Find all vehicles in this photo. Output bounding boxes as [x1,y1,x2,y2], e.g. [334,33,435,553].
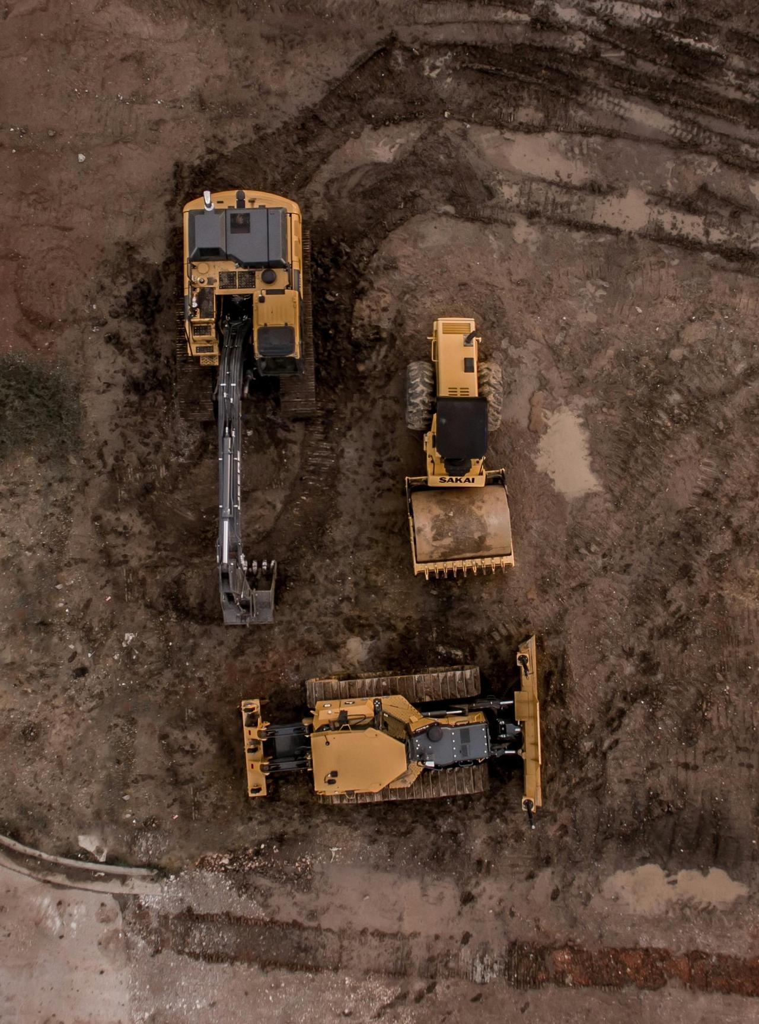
[242,629,542,829]
[405,318,516,582]
[177,190,318,629]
